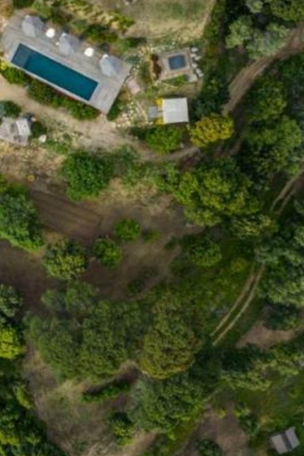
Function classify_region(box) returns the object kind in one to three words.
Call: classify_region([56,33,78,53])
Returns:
umbrella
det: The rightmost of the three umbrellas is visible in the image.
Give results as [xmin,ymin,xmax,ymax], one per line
[96,52,120,74]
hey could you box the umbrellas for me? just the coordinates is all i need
[21,15,42,37]
[96,52,120,74]
[56,33,78,53]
